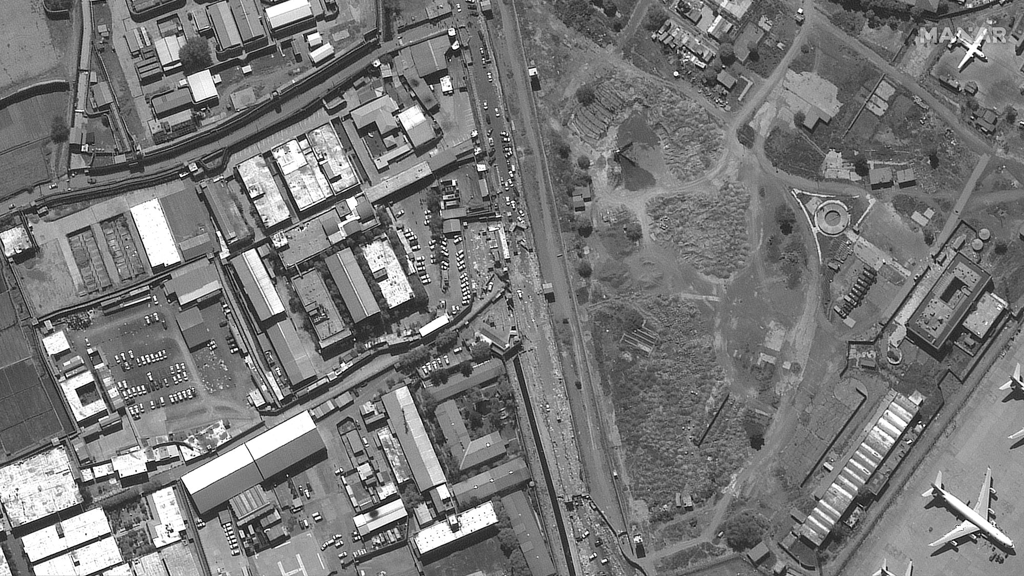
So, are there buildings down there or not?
Yes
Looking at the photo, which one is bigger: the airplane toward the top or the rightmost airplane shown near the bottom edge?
the rightmost airplane shown near the bottom edge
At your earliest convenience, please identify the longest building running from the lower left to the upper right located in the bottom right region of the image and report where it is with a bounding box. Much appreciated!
[800,393,918,547]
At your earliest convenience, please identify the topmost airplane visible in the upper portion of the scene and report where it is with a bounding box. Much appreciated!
[952,30,990,70]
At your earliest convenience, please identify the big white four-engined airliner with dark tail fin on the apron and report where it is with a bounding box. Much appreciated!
[921,466,1014,548]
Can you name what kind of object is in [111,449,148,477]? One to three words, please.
house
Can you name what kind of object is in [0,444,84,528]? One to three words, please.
building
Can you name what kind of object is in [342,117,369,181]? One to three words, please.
shed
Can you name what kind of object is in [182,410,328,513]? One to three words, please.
hangar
